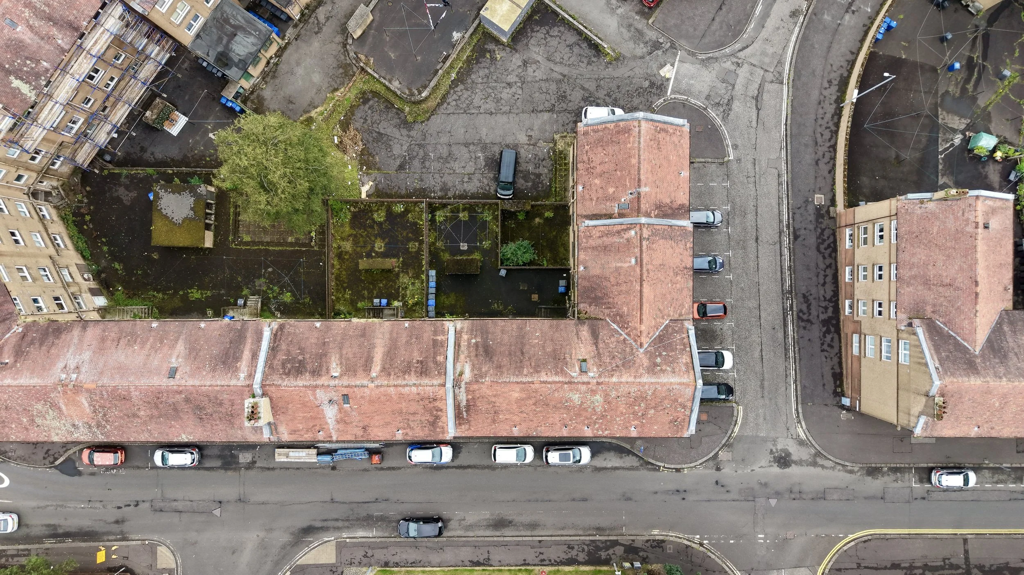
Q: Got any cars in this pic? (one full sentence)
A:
Yes, a car is visible in the scene.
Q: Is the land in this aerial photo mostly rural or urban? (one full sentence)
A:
The land in this view is best described as urban.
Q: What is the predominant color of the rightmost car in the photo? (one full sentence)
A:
In this view, the rightmost car is white.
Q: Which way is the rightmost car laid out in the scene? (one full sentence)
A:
In this picture, the rightmost car is oriented from side to side.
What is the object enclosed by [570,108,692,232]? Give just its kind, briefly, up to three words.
building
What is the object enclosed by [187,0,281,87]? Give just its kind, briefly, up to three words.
building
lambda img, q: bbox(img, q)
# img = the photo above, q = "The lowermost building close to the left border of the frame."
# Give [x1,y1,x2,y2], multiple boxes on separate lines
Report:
[0,318,267,443]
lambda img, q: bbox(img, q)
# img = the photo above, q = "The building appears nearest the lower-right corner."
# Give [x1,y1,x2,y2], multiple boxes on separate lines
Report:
[851,309,1024,439]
